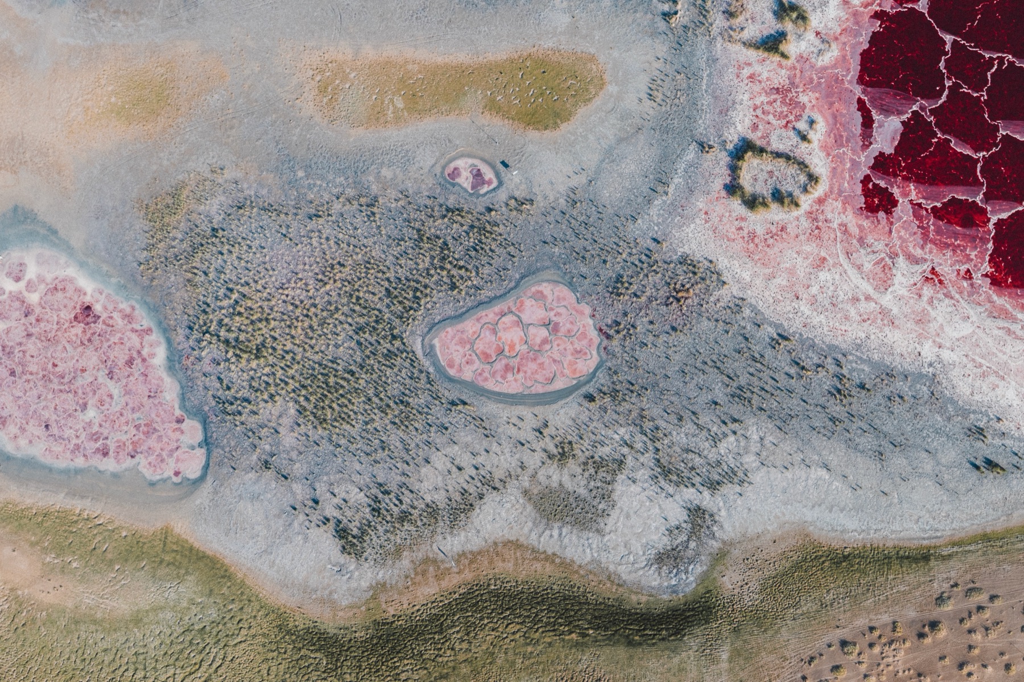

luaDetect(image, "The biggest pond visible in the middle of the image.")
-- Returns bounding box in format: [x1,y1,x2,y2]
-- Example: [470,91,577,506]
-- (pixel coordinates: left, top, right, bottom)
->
[426,275,603,404]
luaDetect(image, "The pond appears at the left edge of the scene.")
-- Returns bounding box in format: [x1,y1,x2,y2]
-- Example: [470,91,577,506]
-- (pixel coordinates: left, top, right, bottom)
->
[0,249,205,482]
